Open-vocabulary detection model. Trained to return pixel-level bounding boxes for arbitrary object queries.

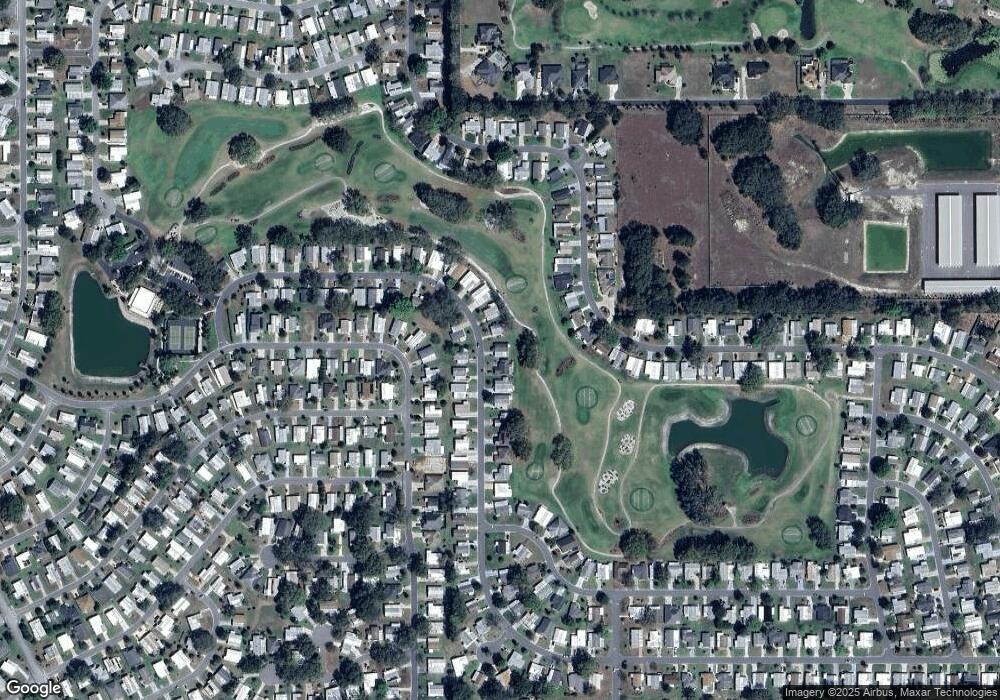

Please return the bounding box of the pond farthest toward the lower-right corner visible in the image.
[668,398,787,477]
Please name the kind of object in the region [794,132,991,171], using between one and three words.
pond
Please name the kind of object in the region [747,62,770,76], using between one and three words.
house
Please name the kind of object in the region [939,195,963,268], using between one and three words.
building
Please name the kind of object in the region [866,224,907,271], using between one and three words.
pond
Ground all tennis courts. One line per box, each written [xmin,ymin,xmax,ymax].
[185,325,195,350]
[172,325,183,350]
